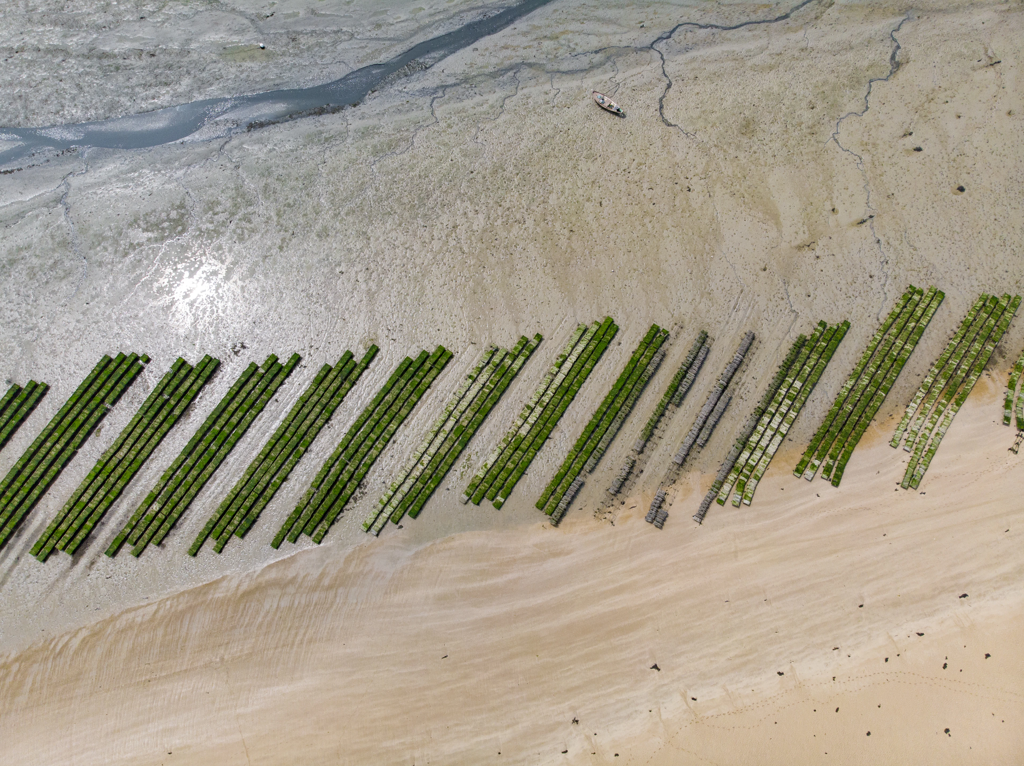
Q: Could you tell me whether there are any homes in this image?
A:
No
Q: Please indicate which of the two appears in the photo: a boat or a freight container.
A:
boat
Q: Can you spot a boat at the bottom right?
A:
No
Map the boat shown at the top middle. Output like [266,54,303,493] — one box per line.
[591,88,624,114]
